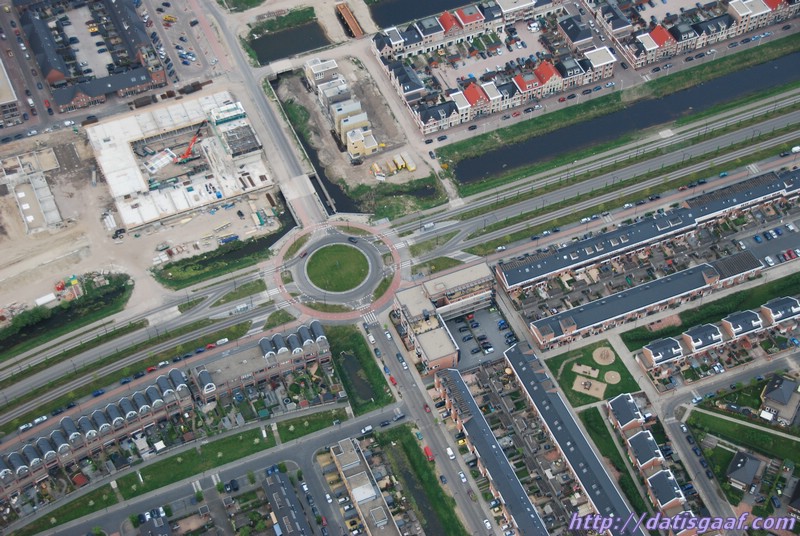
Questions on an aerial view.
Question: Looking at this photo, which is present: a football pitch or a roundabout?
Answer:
roundabout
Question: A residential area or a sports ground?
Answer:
residential area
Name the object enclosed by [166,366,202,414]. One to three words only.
house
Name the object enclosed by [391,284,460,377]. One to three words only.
building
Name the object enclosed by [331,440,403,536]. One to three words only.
building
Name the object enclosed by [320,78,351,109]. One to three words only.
house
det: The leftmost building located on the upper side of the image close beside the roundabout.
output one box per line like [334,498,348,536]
[85,91,273,231]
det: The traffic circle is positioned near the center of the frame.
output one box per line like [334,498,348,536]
[275,222,401,319]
